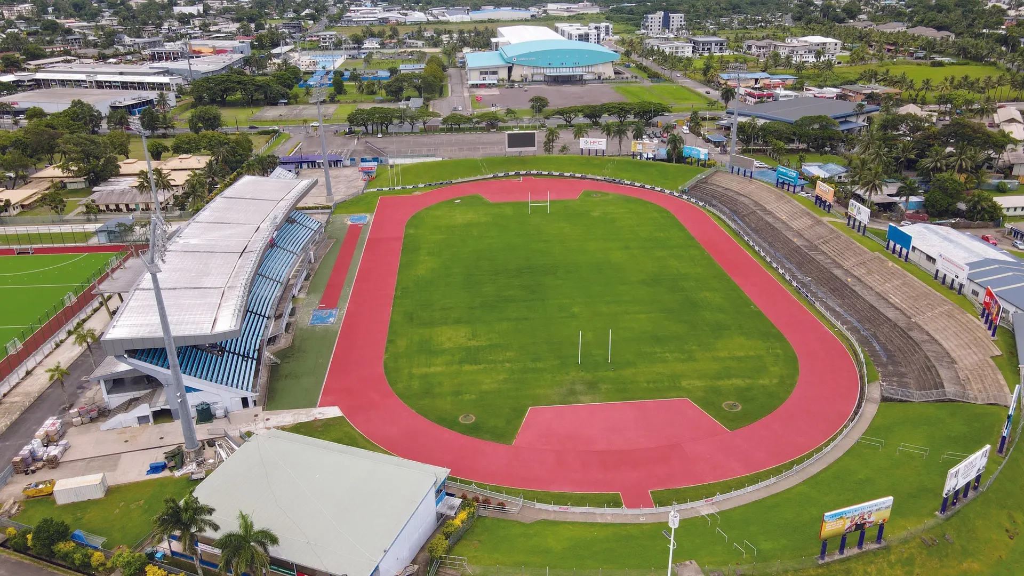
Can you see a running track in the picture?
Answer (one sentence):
Yes, I can see a running track in this picture.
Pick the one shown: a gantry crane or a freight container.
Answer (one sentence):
Of the two, only a freight container appears.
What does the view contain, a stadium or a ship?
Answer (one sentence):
Of the two, only a stadium appears.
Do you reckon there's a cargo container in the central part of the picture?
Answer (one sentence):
No, I can find no cargo container in the central part of the picture.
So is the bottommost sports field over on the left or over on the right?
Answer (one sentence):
You can find the bottommost sports field on the left side of the picture.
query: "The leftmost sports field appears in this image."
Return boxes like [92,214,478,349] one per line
[0,252,129,353]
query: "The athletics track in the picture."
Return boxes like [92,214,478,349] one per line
[319,178,858,492]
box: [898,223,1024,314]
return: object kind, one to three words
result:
shed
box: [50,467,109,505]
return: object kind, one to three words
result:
shipping container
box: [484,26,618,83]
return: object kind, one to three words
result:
stadium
